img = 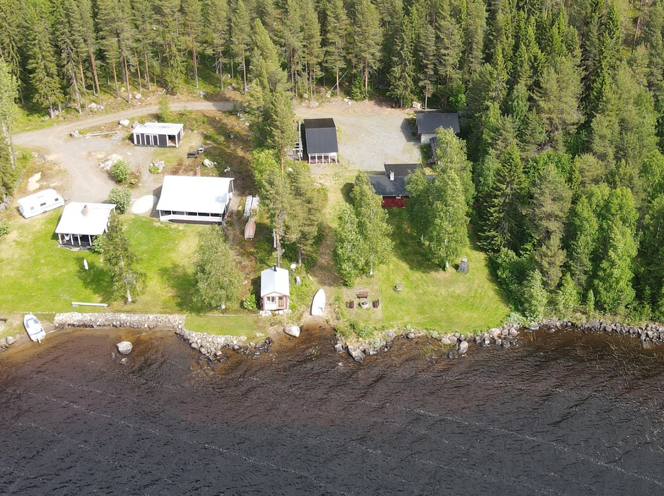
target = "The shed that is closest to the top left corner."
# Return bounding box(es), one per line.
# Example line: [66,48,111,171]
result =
[130,120,185,148]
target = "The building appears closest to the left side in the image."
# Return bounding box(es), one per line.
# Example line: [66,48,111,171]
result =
[50,197,119,246]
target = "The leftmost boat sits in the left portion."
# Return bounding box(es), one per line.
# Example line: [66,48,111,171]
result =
[23,308,47,343]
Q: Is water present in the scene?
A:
Yes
